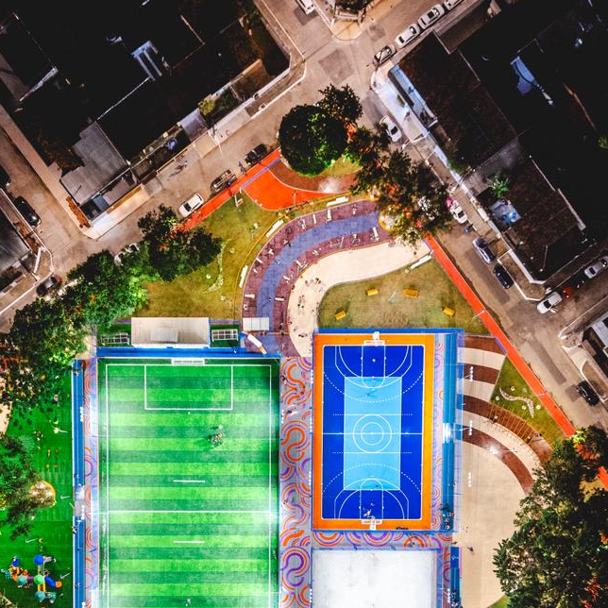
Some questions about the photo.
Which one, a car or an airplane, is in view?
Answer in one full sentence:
Looking from above, you can make out a car.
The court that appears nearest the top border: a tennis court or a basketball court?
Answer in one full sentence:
The court that appears nearest the top border can be classified as a basketball court.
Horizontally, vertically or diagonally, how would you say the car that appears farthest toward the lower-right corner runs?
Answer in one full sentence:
In this picture, the car that appears farthest toward the lower-right corner lies diagonally.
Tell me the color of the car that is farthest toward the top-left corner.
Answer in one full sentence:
In this view, the car that is farthest toward the top-left corner is black.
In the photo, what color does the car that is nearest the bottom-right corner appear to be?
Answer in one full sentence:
From above, the car that is nearest the bottom-right corner appears black.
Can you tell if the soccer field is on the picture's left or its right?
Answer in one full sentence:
You can find the soccer field on the left side of the picture.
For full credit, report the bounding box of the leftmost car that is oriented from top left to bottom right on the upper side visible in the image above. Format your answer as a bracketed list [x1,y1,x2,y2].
[13,195,38,223]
